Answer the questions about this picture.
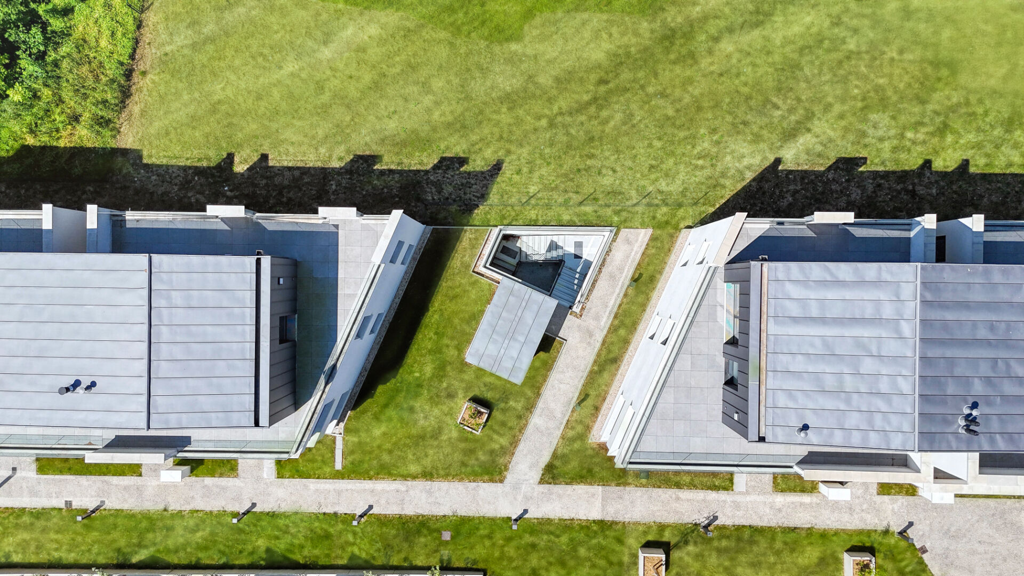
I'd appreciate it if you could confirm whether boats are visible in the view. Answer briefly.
No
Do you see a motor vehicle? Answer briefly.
No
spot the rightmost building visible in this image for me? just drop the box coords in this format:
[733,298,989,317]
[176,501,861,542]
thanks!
[599,212,1024,495]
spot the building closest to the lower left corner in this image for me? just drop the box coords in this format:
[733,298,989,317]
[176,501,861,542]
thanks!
[0,204,426,463]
